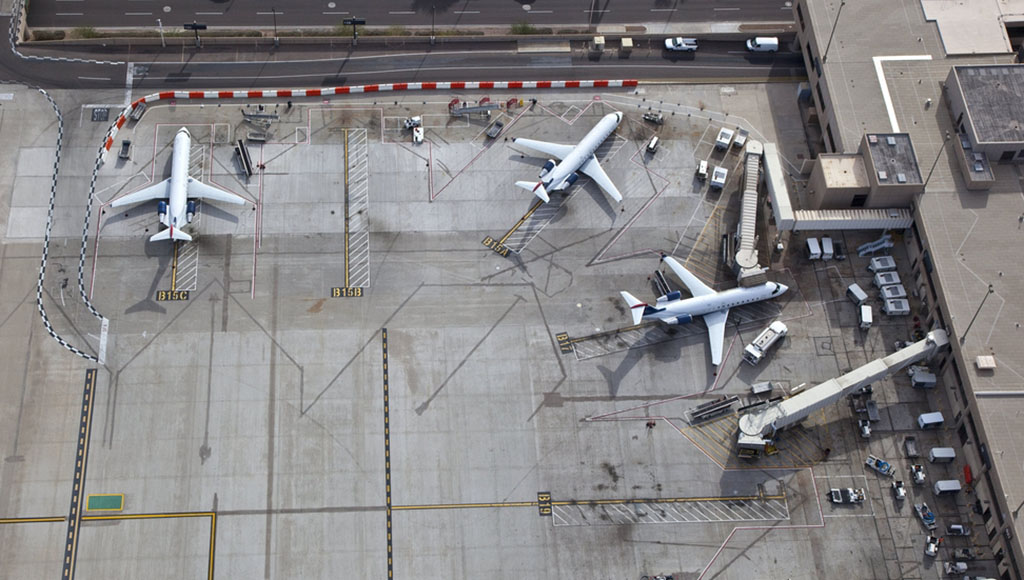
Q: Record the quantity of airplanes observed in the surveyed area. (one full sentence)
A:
The photo contains 3 airplanes.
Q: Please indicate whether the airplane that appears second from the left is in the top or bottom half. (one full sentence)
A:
Seen from above, the airplane that appears second from the left lies in the top half of the view.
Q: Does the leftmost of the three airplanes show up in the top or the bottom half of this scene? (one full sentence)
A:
The top half of the photo is where the leftmost of the three airplanes is.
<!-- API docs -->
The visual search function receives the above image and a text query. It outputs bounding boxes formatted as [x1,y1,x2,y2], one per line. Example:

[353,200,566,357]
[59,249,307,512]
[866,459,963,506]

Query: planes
[508,113,625,203]
[106,129,248,243]
[620,254,788,364]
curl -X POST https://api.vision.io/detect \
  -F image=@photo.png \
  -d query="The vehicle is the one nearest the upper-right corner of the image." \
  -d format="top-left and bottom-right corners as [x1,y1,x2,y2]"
[746,37,780,53]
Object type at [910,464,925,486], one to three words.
work vehicle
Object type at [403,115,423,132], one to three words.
work vehicle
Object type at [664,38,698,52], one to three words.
vehicle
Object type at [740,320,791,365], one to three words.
truck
